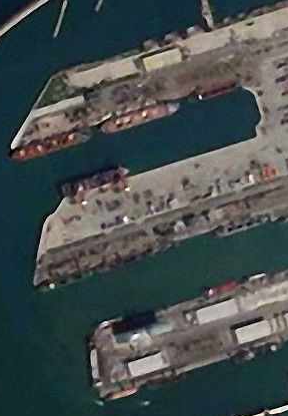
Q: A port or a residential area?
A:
port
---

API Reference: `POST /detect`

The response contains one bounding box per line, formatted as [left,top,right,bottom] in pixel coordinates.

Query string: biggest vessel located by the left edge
[9,134,91,159]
